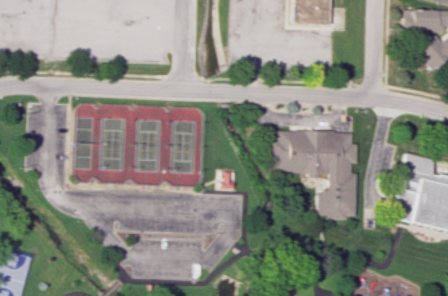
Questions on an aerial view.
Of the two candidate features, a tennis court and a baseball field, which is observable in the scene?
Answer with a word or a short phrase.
tennis court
